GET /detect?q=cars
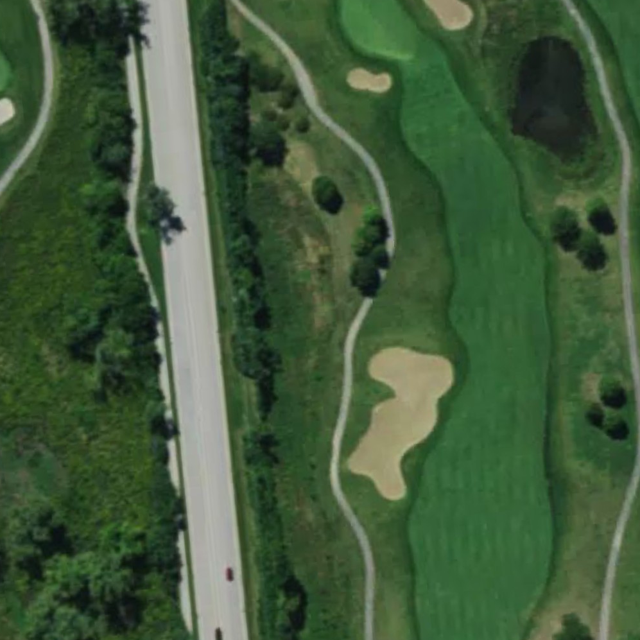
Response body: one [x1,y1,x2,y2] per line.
[226,567,233,582]
[215,628,222,640]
